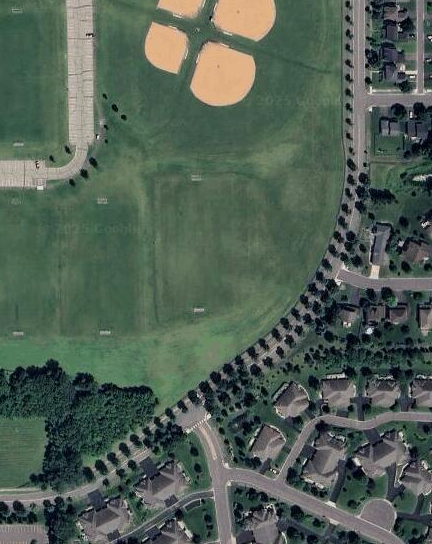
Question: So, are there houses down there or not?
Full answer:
Yes, this view includes a house.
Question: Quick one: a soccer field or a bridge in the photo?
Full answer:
The one in the frame is a soccer field.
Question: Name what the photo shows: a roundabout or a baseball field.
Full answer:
There is a baseball field in the scene.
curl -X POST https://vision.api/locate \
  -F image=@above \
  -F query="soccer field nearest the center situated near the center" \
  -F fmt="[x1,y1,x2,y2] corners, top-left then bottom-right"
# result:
[156,181,244,313]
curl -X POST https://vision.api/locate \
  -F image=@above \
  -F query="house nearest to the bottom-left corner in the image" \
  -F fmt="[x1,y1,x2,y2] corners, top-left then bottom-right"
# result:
[80,499,131,544]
